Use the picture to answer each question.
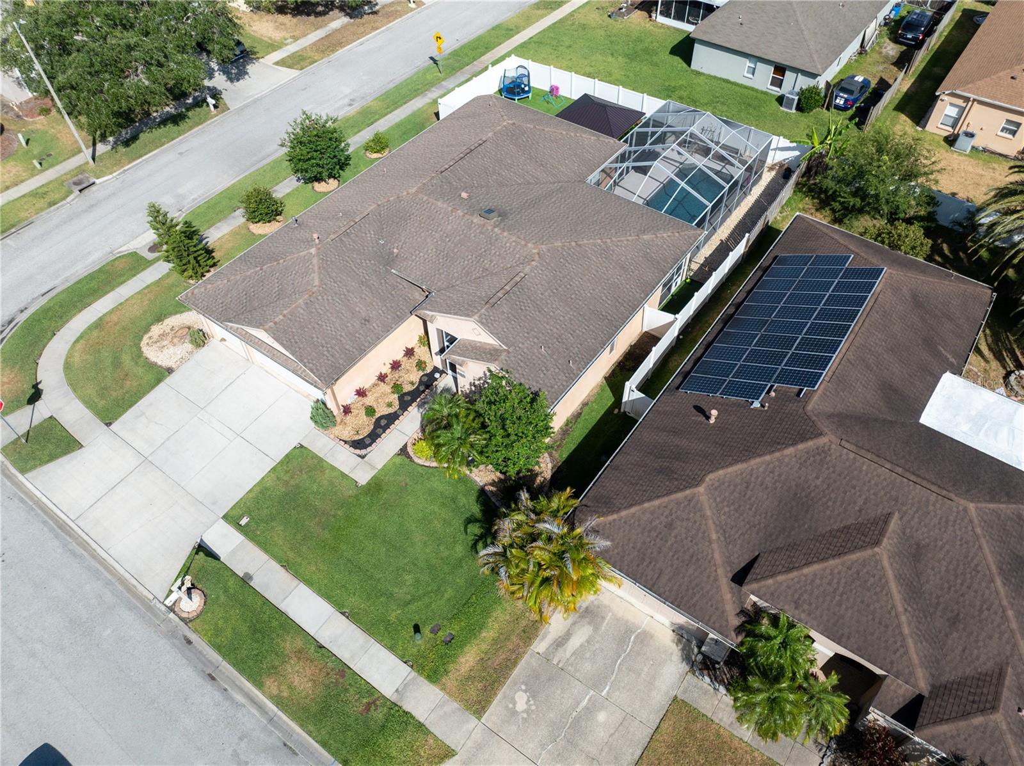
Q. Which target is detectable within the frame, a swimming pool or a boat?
swimming pool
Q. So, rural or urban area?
urban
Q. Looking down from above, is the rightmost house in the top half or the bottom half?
top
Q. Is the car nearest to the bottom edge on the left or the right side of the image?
right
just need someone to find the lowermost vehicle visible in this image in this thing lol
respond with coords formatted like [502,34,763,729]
[836,70,879,107]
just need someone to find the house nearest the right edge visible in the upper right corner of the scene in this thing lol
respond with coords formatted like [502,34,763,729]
[928,0,1024,154]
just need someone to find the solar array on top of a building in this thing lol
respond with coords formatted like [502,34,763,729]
[682,254,882,407]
